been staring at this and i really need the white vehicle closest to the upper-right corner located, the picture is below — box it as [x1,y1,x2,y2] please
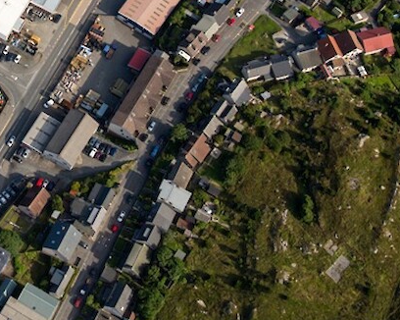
[356,63,368,79]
